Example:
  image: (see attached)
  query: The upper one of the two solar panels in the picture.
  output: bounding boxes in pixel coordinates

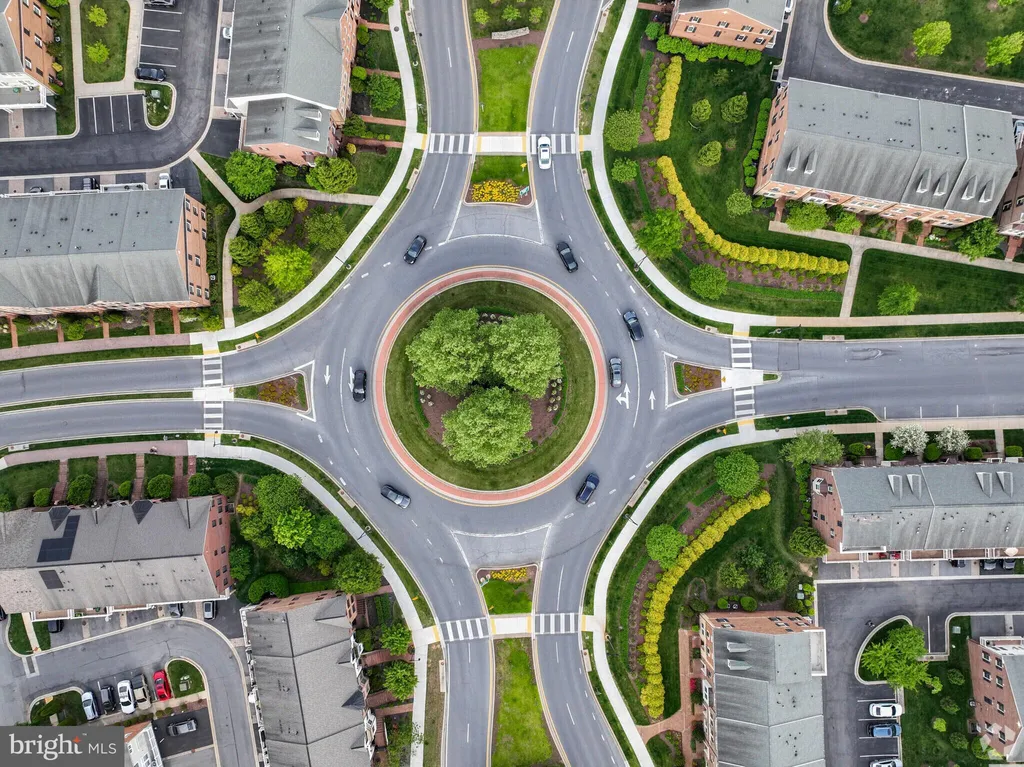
[37,516,80,562]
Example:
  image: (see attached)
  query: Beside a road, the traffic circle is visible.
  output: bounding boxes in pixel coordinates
[337,238,643,533]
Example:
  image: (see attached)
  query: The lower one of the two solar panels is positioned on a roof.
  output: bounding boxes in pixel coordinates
[39,570,63,589]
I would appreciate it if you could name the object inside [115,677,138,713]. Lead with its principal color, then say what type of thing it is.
white car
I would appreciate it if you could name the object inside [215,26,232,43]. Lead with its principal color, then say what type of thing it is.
white car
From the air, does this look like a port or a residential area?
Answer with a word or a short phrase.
residential area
